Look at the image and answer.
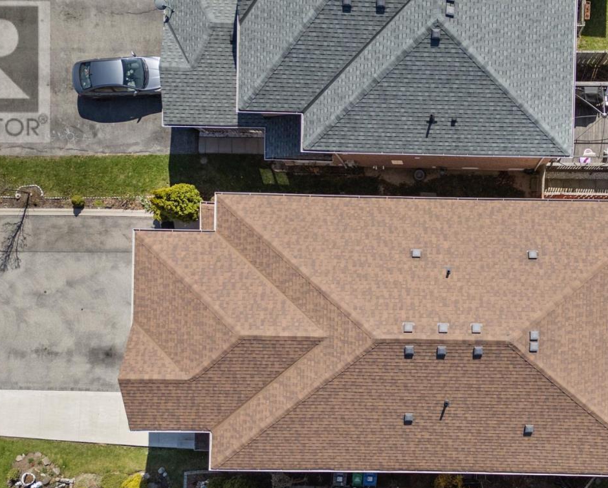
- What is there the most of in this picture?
buildings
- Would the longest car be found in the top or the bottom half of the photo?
top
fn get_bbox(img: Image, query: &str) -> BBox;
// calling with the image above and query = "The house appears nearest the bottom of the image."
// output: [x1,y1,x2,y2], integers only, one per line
[118,193,608,477]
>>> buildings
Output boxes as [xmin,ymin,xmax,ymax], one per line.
[160,0,574,171]
[118,193,608,477]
